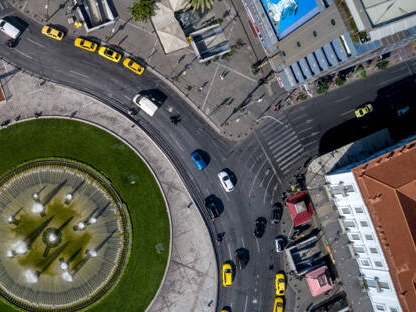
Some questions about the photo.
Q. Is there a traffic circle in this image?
No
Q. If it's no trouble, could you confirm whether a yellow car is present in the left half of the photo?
Yes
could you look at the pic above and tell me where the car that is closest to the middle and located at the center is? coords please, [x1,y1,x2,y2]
[191,151,207,171]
